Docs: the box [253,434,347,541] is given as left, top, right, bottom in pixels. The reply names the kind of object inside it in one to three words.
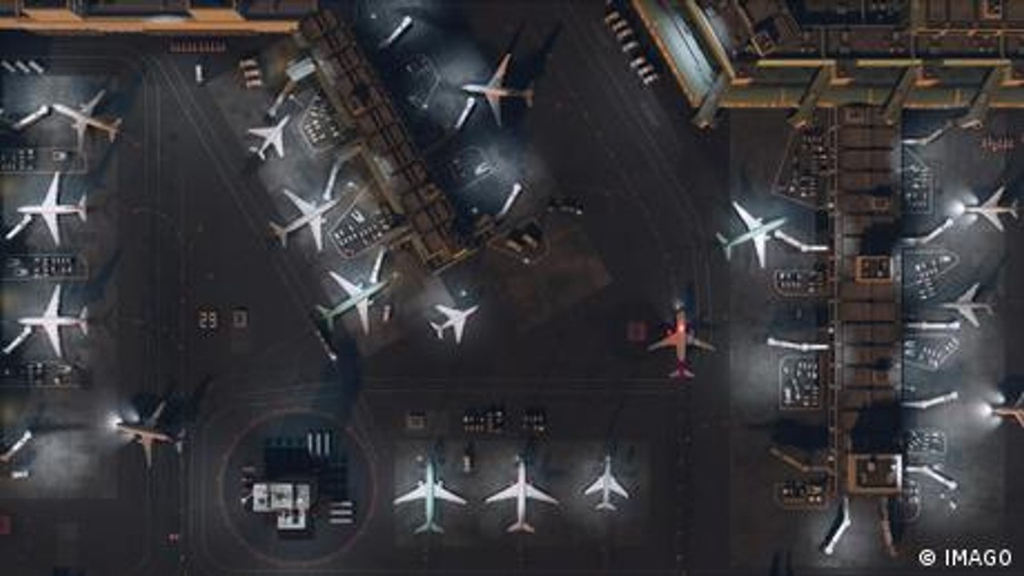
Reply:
building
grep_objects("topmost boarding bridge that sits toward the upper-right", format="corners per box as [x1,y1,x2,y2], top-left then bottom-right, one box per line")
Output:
[902,124,948,145]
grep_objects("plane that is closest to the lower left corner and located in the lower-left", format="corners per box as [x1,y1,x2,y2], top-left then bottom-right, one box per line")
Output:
[116,401,188,466]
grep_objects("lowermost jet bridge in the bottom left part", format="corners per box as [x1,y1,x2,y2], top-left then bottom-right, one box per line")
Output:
[0,431,35,461]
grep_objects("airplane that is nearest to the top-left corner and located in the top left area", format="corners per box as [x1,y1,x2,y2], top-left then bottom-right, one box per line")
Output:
[51,84,123,144]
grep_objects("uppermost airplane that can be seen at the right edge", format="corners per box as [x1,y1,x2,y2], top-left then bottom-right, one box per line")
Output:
[967,187,1023,232]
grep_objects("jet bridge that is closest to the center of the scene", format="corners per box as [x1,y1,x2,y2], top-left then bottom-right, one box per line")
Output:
[494,183,522,217]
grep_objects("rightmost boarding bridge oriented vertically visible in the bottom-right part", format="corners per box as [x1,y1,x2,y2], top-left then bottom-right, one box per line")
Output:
[882,496,896,556]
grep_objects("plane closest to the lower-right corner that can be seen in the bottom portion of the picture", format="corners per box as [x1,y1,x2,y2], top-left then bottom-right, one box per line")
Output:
[993,394,1024,438]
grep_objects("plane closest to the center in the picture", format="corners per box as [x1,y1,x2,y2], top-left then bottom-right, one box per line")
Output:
[427,298,480,342]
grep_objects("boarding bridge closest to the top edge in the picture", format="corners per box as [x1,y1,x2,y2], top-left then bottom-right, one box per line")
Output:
[369,15,413,54]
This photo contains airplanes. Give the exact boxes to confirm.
[116,401,188,466]
[427,298,480,342]
[51,84,123,144]
[715,201,786,266]
[993,394,1024,438]
[484,462,559,536]
[944,285,997,329]
[261,185,337,249]
[311,267,391,333]
[16,172,85,246]
[392,462,466,537]
[584,457,630,519]
[248,114,289,162]
[648,309,716,379]
[16,285,86,359]
[967,187,1023,232]
[462,53,536,126]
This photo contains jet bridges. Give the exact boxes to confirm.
[902,218,954,244]
[442,95,477,141]
[766,334,826,349]
[2,327,35,355]
[0,107,5,119]
[369,15,413,54]
[773,228,826,251]
[902,124,948,145]
[494,183,522,217]
[768,446,826,472]
[882,496,896,556]
[902,391,959,408]
[4,214,36,241]
[0,431,35,461]
[320,150,359,201]
[13,105,51,129]
[822,496,851,555]
[367,239,394,284]
[903,465,957,490]
[266,82,295,119]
